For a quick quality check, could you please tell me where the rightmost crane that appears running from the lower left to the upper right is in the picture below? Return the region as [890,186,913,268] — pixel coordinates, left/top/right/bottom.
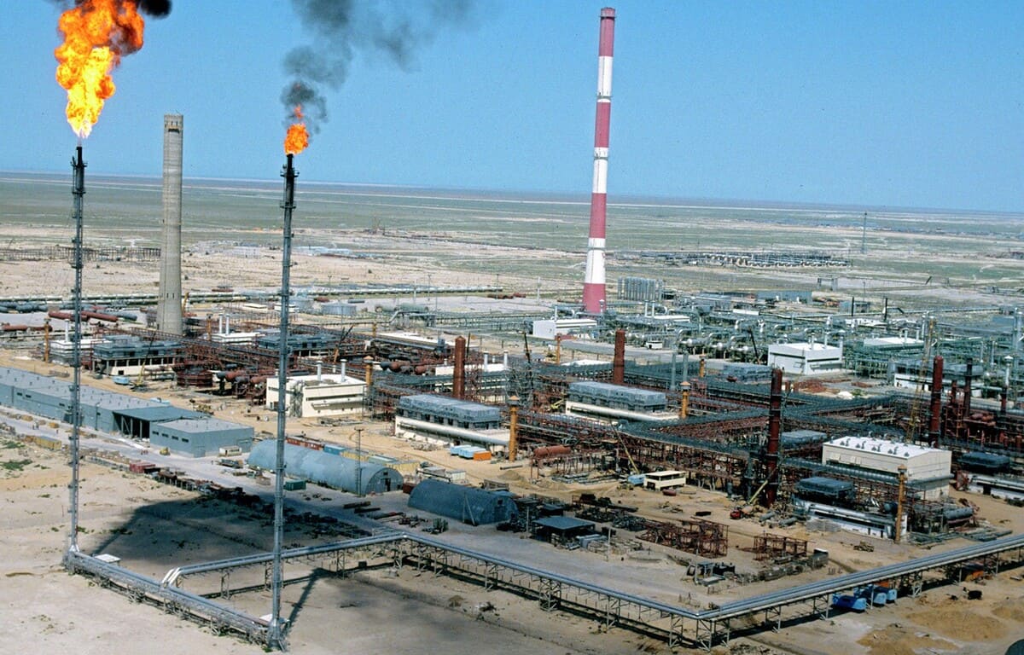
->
[724,475,779,519]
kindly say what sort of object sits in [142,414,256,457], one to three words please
building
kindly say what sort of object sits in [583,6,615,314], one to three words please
chimney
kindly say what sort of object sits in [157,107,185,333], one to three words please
chimney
